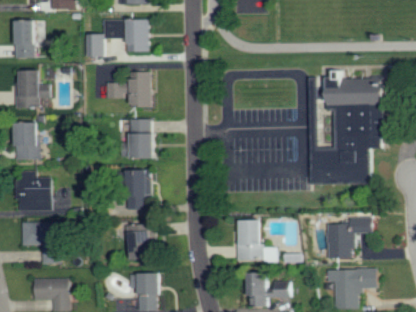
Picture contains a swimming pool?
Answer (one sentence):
Yes, the photo shows a swimming pool.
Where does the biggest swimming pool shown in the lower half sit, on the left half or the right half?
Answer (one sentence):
It is on the right.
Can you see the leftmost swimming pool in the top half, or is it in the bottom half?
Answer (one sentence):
The top half of the photo is where the leftmost swimming pool is.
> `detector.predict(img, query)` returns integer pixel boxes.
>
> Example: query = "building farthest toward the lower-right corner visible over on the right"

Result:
[328,270,377,310]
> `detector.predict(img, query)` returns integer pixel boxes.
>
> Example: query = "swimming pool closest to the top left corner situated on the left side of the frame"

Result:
[53,70,74,110]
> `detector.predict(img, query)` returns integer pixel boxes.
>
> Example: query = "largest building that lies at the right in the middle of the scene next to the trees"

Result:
[310,70,383,184]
